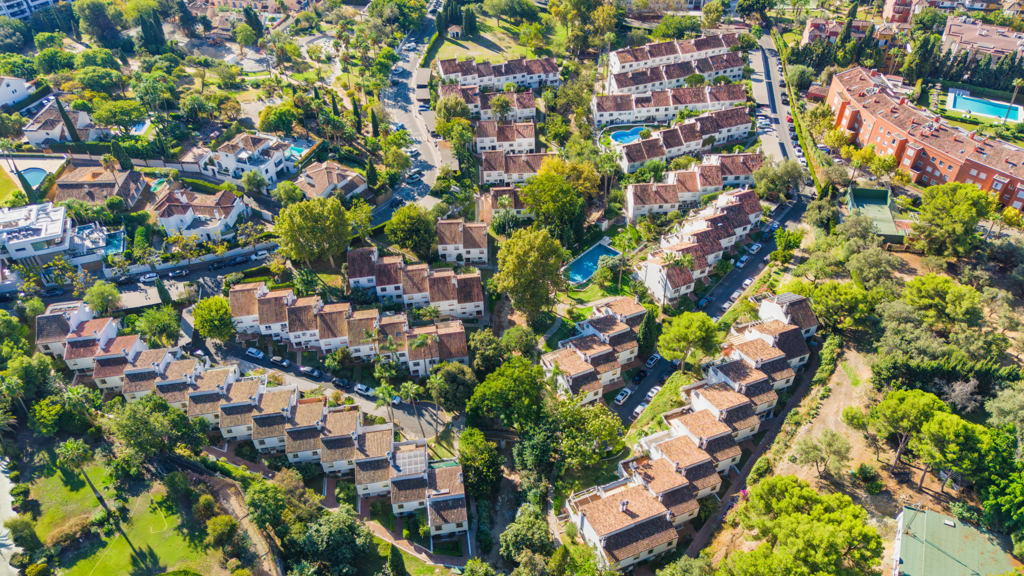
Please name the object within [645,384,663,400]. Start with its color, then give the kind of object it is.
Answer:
white car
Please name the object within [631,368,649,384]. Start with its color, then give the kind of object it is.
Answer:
black car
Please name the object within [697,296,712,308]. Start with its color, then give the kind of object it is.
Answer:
blue vehicle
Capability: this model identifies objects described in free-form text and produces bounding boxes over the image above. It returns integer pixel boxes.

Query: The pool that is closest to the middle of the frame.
[565,241,622,283]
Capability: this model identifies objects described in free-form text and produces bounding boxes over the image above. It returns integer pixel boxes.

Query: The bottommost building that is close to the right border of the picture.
[889,506,1024,576]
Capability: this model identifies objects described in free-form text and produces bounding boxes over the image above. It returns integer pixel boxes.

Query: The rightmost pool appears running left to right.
[949,93,1022,121]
